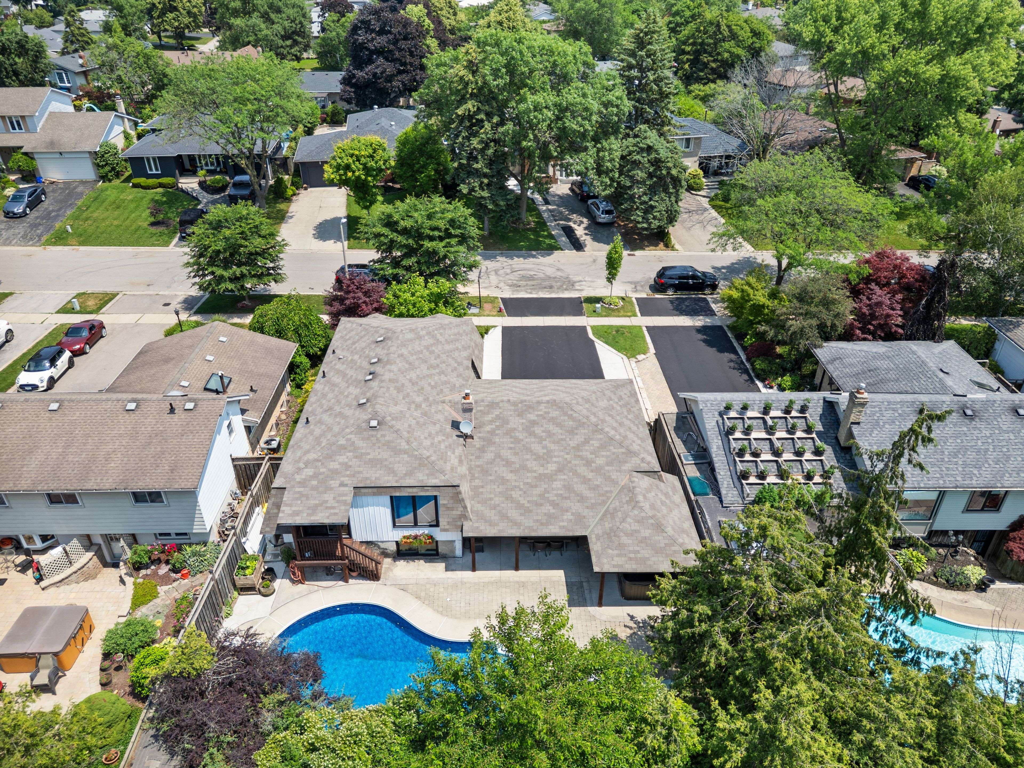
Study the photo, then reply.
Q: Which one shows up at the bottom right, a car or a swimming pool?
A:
swimming pool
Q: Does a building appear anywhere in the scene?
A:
Yes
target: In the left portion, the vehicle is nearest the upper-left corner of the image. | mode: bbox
[4,190,44,215]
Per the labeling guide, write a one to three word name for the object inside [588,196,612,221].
car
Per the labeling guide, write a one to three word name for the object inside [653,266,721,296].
car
